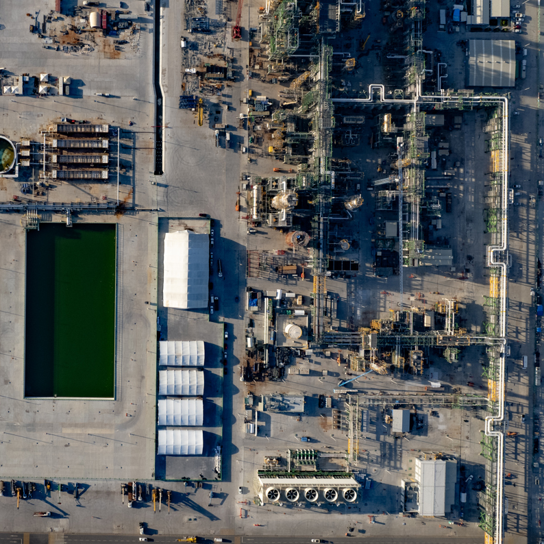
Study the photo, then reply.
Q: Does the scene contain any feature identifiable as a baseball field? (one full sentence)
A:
No, the frame has no baseball field in it.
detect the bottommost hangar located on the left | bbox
[159,430,206,456]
